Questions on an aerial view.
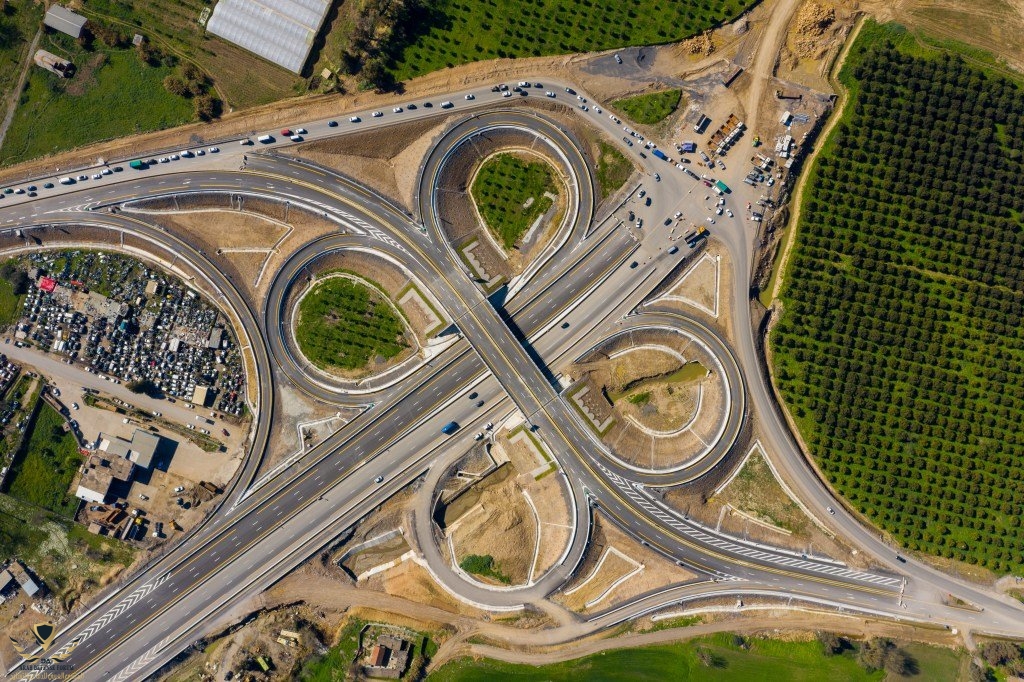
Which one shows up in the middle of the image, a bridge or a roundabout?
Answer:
bridge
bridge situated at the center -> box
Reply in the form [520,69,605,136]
[456,298,558,415]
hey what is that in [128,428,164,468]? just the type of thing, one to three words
building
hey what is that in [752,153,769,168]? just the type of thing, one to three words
vehicle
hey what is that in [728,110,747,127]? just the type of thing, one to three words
vehicle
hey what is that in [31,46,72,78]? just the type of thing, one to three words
barn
